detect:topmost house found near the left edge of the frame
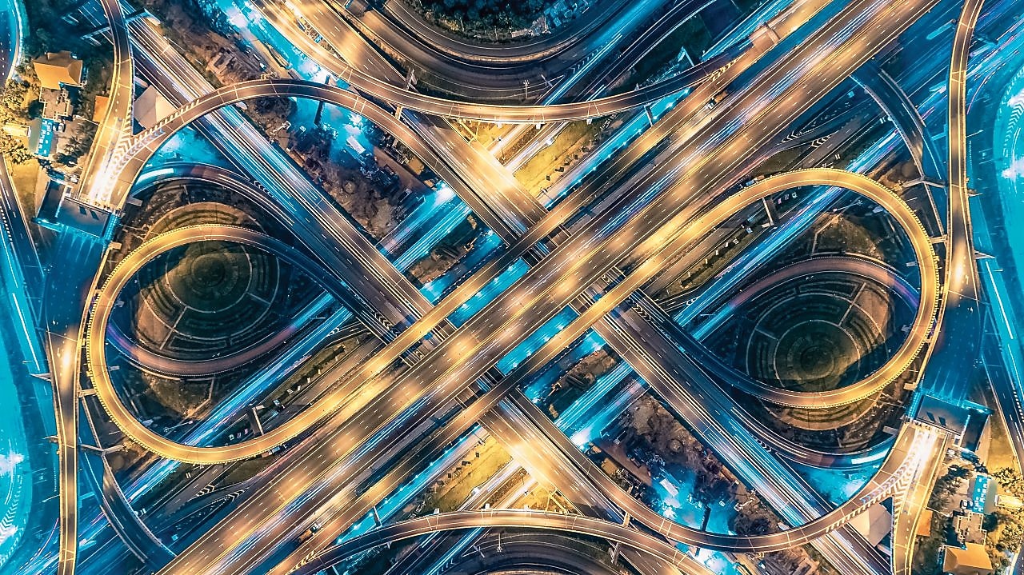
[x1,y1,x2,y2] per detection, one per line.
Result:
[33,49,88,92]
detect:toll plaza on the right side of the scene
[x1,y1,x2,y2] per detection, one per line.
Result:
[904,392,969,436]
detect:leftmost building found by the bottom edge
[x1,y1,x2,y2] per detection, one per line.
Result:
[850,505,892,547]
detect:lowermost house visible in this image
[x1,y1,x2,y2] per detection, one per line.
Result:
[937,540,992,575]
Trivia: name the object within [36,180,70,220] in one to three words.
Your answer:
building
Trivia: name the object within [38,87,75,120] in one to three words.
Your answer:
house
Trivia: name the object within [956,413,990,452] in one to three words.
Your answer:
building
